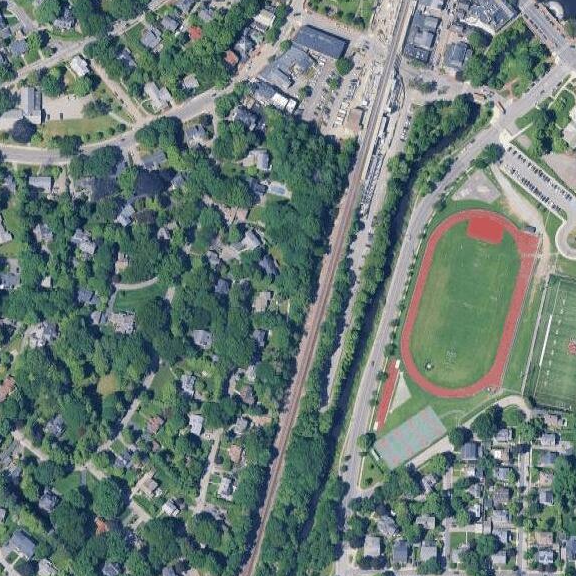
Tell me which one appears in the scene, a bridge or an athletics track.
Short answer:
athletics track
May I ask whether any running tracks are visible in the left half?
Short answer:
No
